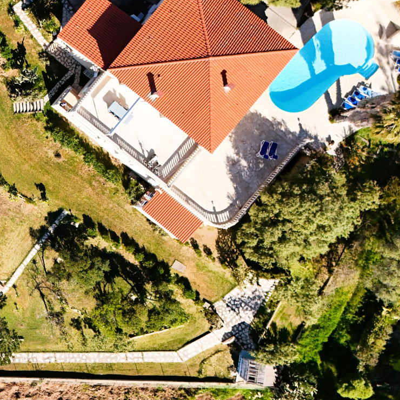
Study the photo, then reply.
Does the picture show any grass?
Yes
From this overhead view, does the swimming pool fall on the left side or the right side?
right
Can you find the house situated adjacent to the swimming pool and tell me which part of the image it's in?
top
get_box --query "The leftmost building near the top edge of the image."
[52,0,301,152]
